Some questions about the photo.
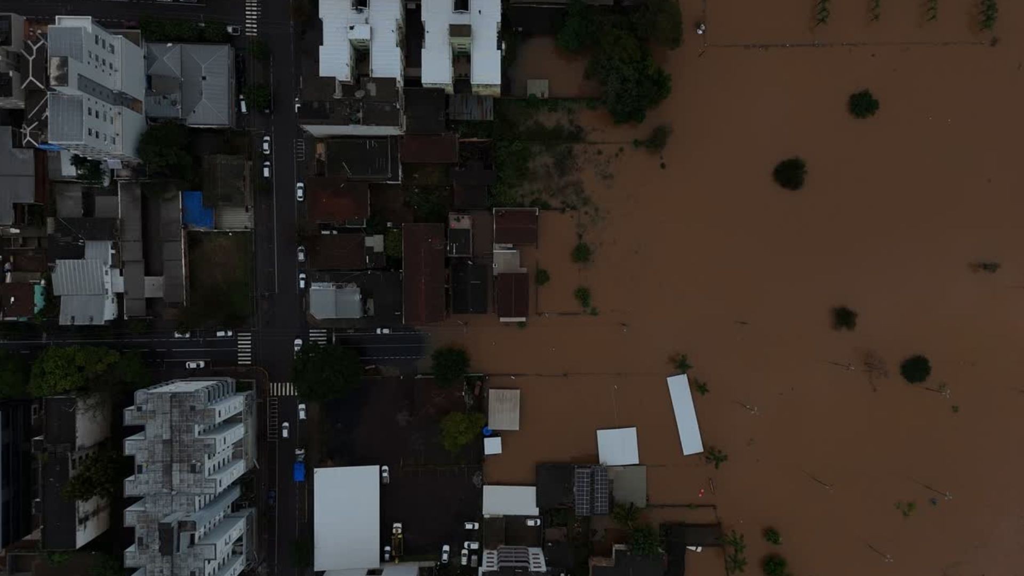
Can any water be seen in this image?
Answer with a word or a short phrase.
Yes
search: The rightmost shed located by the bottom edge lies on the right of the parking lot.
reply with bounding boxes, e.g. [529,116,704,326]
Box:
[658,519,721,576]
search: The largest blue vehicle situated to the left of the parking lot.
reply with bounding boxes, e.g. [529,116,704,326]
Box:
[292,448,306,482]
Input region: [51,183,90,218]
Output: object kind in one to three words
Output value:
house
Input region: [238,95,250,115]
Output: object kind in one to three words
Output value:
vehicle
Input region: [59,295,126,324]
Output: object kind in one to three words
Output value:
building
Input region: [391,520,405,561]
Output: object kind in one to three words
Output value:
vehicle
